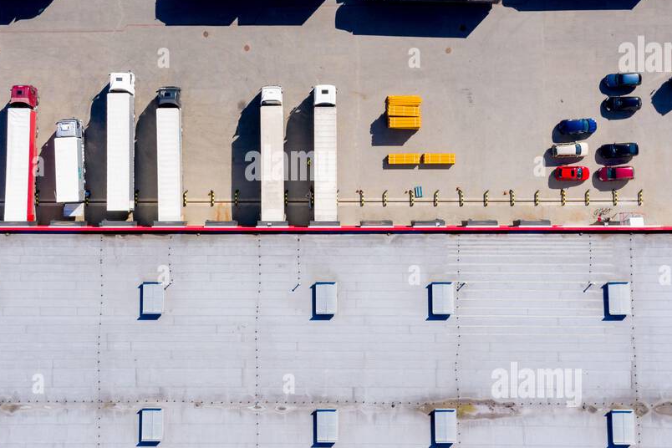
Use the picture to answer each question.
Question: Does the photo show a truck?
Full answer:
Yes, I can see a truck in this picture.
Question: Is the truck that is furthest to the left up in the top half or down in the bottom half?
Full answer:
The top half of the photo is where the truck that is furthest to the left is.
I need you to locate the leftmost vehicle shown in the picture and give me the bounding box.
[4,86,40,221]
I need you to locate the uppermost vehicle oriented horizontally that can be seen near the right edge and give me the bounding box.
[604,70,642,88]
